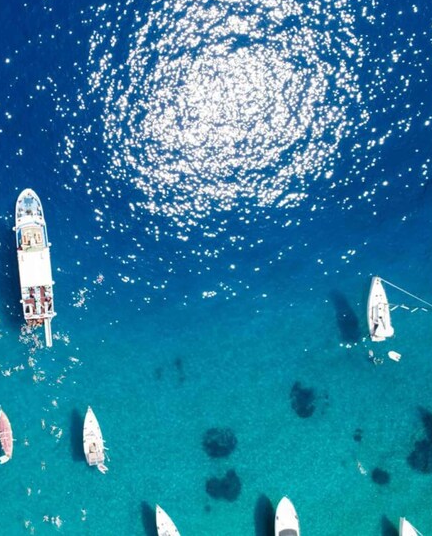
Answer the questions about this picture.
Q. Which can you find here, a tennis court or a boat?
boat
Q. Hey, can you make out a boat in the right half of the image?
Yes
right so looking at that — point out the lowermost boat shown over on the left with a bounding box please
[155,503,180,536]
